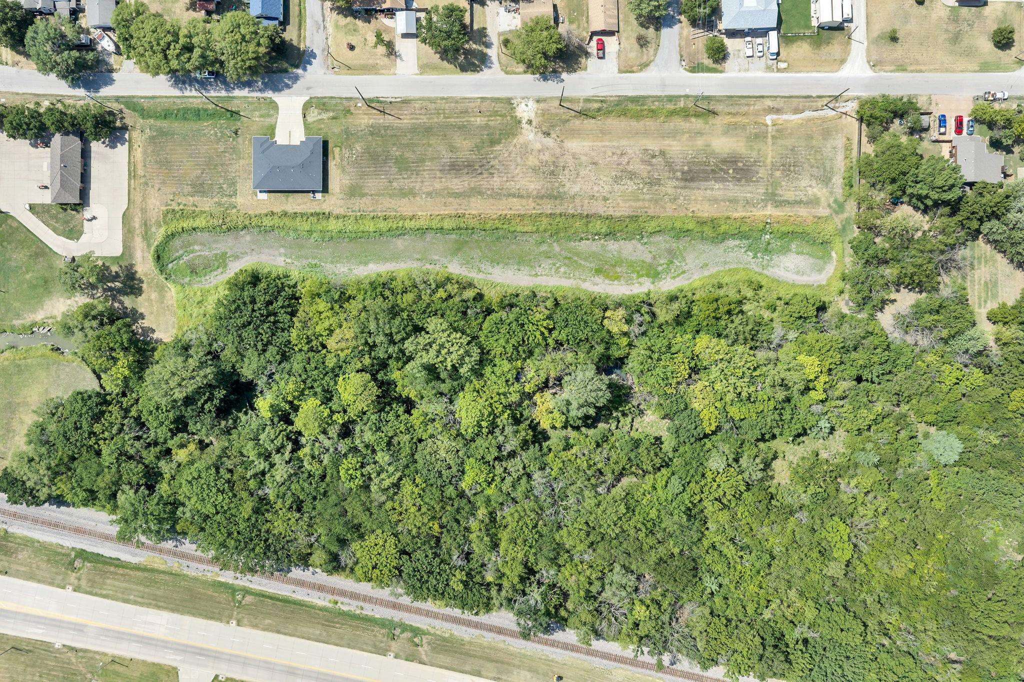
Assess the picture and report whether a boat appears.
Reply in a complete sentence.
Yes, this view includes a boat.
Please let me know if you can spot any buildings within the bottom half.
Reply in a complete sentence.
No, the scene shows no building within the bottom half.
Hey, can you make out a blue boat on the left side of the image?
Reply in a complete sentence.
No, on the left side of the image there is no blue boat.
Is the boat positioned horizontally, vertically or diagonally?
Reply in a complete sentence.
The boat runs diagonally in the image.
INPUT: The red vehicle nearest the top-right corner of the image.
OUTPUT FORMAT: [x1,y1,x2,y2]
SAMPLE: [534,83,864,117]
[953,115,965,136]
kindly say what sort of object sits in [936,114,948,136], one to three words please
vehicle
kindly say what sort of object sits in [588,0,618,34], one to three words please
house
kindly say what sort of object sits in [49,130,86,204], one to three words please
building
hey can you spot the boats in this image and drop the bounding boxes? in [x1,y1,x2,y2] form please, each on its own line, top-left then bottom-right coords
[95,30,121,56]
